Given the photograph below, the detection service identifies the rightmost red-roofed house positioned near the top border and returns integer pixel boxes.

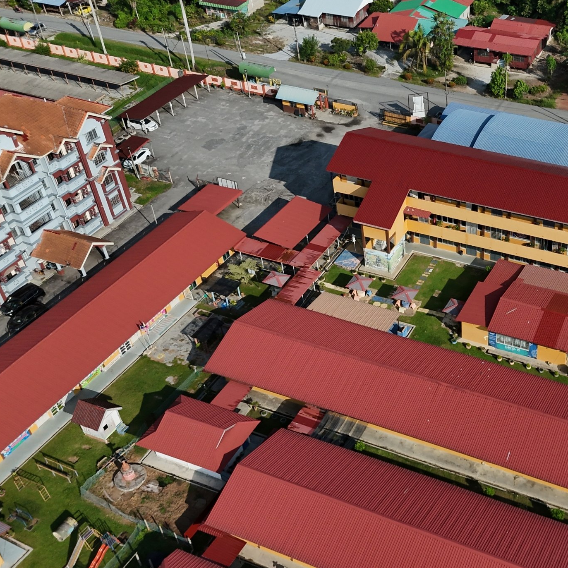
[451,12,558,70]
